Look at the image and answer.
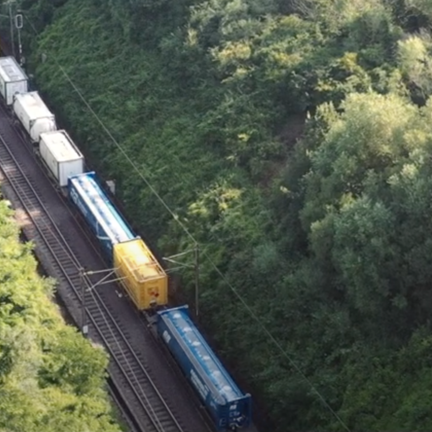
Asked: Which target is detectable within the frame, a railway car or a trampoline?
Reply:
railway car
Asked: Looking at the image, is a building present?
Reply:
No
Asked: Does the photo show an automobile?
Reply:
No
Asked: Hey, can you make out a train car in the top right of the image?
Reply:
No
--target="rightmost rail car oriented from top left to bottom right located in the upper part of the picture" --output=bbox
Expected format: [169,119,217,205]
[13,112,69,193]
